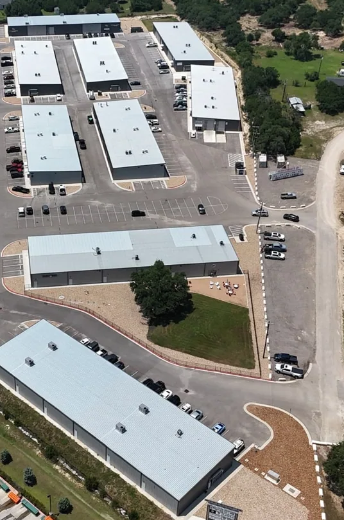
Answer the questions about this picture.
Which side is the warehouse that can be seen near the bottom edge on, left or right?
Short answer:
left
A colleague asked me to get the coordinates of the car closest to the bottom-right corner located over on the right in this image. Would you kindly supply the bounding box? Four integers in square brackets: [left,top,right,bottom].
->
[230,437,248,455]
